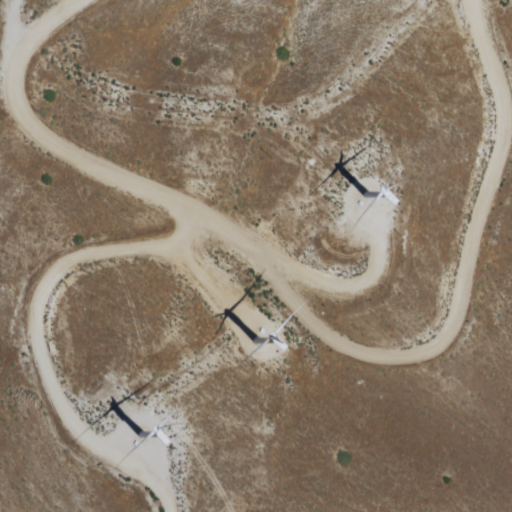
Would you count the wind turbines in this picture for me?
3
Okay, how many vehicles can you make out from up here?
0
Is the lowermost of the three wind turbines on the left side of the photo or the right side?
left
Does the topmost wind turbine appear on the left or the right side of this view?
right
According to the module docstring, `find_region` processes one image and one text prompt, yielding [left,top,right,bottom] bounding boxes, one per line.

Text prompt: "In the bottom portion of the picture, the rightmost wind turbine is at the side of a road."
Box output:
[237,295,300,356]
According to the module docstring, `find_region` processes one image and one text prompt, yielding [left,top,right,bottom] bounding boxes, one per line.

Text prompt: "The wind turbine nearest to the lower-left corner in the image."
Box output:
[115,400,174,462]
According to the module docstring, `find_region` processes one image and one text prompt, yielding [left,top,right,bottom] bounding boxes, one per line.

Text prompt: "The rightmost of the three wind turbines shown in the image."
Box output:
[346,166,408,224]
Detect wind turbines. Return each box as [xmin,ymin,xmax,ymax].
[346,166,408,224]
[115,400,174,462]
[237,295,300,356]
